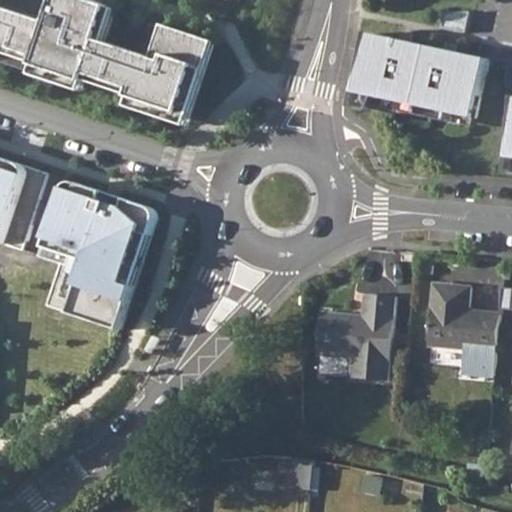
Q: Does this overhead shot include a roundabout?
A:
Yes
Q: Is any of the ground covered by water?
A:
No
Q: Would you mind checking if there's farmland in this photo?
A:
No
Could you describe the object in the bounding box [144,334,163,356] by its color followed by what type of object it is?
white vehicle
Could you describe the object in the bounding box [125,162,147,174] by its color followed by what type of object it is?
white vehicle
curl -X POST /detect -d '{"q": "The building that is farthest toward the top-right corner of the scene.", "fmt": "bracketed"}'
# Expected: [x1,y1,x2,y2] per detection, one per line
[442,10,471,34]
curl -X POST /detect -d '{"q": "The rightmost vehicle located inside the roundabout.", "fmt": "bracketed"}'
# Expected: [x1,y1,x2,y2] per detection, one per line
[309,216,328,238]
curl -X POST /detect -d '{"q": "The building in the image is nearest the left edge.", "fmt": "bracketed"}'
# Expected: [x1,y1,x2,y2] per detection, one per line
[0,159,52,250]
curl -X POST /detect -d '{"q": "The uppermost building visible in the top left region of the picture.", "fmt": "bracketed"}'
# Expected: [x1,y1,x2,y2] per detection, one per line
[0,0,222,126]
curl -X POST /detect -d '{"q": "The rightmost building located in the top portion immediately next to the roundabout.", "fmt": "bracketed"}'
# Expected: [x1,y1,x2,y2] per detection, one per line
[347,33,484,128]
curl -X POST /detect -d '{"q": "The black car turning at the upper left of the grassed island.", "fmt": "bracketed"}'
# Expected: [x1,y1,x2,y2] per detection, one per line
[240,164,257,185]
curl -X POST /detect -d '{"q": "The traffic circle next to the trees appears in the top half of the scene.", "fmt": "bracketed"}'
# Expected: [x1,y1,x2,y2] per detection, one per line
[202,124,358,283]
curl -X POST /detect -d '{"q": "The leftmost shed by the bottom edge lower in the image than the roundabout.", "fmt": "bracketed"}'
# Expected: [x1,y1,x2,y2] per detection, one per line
[299,464,322,494]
